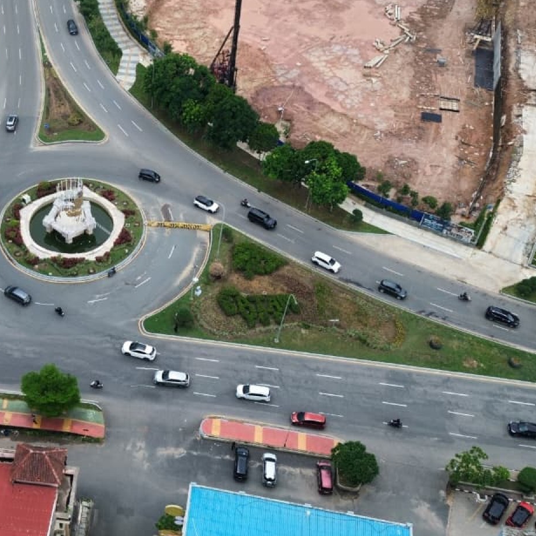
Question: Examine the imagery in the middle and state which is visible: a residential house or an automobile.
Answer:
automobile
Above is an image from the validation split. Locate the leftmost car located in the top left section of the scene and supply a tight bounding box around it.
[5,113,20,133]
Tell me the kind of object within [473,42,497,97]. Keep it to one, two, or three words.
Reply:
shed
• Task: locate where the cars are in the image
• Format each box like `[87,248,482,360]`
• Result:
[153,367,191,389]
[245,205,279,230]
[503,419,536,441]
[66,19,78,35]
[504,497,534,531]
[289,410,328,430]
[260,451,279,491]
[231,446,252,486]
[309,249,342,275]
[234,382,272,403]
[315,459,333,496]
[374,277,411,302]
[483,303,522,330]
[135,165,163,185]
[1,284,35,309]
[478,490,511,529]
[5,113,20,133]
[121,341,158,362]
[191,193,221,215]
